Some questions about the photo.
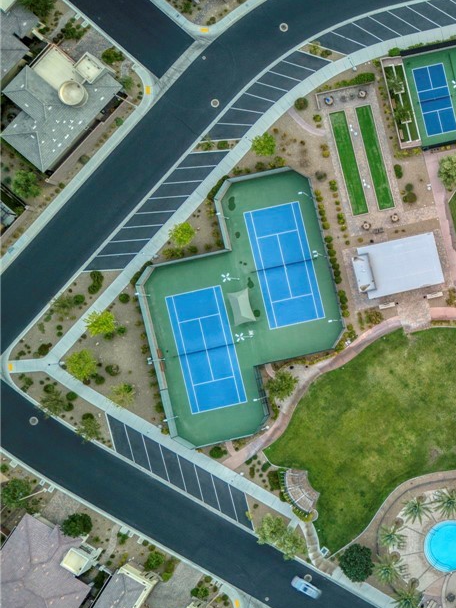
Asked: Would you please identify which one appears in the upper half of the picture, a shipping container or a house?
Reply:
house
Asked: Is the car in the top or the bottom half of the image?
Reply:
bottom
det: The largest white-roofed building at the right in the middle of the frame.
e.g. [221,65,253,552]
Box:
[352,232,444,299]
